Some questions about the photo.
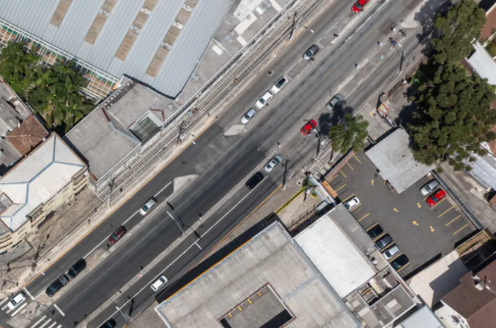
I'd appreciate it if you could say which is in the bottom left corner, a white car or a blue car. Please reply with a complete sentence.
You can see a white car in the bottom left corner.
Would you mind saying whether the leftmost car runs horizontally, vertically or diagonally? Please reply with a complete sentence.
The leftmost car is oriented diagonally.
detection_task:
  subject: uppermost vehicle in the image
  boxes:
[351,0,369,13]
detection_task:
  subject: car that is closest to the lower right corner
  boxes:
[389,254,411,271]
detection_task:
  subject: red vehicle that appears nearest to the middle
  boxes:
[299,117,320,137]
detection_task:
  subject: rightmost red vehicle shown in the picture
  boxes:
[424,189,446,208]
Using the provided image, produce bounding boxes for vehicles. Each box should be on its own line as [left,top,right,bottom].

[137,195,161,216]
[351,0,369,13]
[374,233,394,250]
[381,244,401,260]
[237,106,259,127]
[270,74,291,95]
[5,290,29,312]
[311,199,332,216]
[45,274,70,297]
[299,117,320,137]
[424,189,446,208]
[64,257,88,279]
[243,169,265,191]
[365,222,387,241]
[252,89,275,109]
[101,317,119,328]
[389,254,411,271]
[150,274,169,293]
[108,225,128,244]
[300,43,322,62]
[416,179,438,198]
[343,195,362,211]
